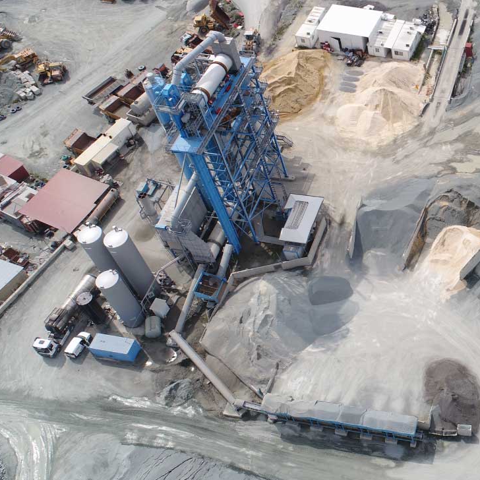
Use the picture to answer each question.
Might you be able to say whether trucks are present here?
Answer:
Yes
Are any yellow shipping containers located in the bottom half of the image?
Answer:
No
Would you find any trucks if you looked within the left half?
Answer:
Yes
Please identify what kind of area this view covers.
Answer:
industrial area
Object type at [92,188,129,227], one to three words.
storage tank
